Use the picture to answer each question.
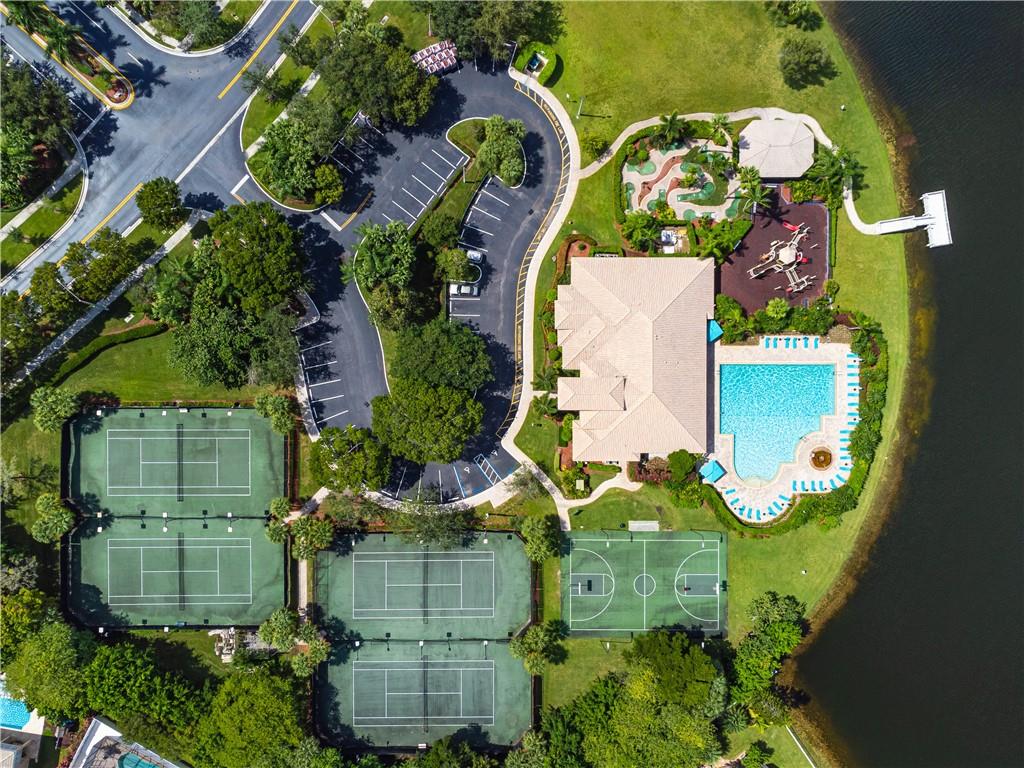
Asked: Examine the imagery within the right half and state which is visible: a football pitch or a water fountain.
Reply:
water fountain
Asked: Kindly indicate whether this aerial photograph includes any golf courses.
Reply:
Yes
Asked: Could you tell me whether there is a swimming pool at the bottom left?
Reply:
Yes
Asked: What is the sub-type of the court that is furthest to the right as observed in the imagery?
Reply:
basketball court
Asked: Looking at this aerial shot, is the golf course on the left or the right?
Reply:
right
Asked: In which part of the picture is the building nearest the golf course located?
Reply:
top right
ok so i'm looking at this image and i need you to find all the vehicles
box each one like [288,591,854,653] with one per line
[456,247,483,264]
[450,284,479,296]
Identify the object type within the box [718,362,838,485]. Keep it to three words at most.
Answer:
swimming pool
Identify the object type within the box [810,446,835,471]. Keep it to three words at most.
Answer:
fountain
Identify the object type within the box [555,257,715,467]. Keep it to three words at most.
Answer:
building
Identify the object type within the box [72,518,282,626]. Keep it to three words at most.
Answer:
tennis court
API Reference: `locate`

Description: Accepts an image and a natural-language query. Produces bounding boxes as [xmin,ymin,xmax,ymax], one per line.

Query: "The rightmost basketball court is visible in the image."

[561,531,728,638]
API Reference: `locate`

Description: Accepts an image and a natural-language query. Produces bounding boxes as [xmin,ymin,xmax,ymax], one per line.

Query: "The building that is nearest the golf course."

[735,120,814,181]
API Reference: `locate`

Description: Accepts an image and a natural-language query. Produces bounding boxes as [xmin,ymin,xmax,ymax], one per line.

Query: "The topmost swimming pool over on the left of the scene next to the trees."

[0,695,32,733]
